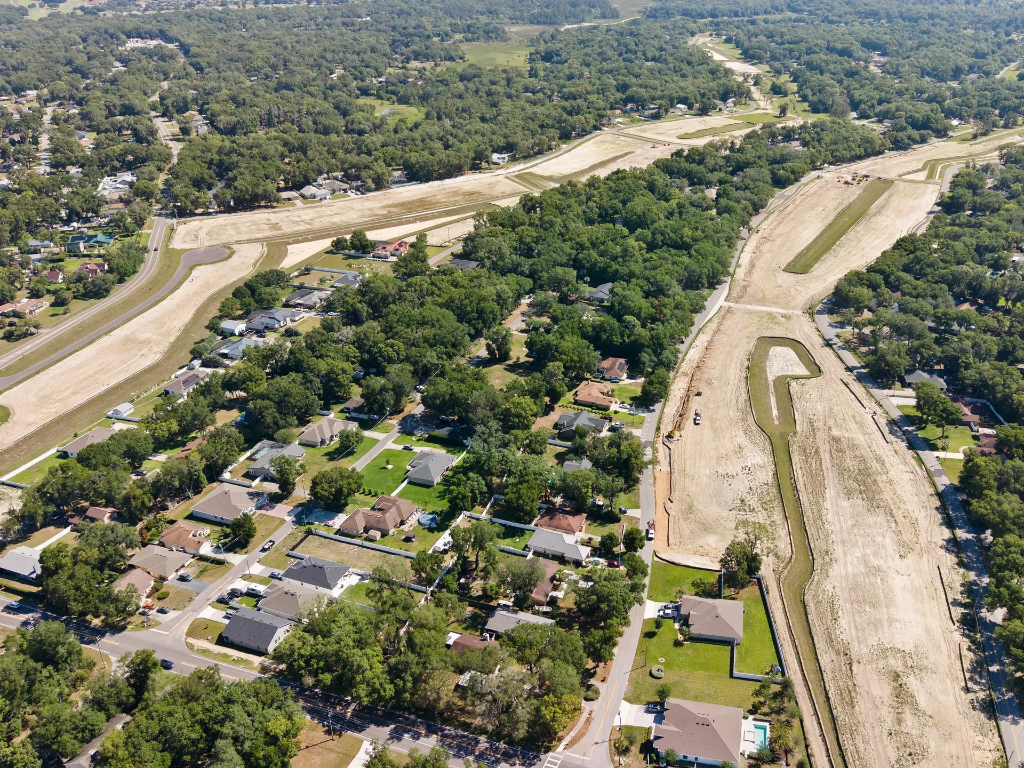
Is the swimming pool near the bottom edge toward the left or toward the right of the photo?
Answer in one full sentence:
The swimming pool near the bottom edge appears in the right half of the scene.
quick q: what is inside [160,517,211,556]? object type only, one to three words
house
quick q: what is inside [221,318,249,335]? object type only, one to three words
shed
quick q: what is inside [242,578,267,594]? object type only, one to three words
vehicle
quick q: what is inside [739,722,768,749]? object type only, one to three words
swimming pool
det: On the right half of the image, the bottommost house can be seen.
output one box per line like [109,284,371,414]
[653,693,739,767]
